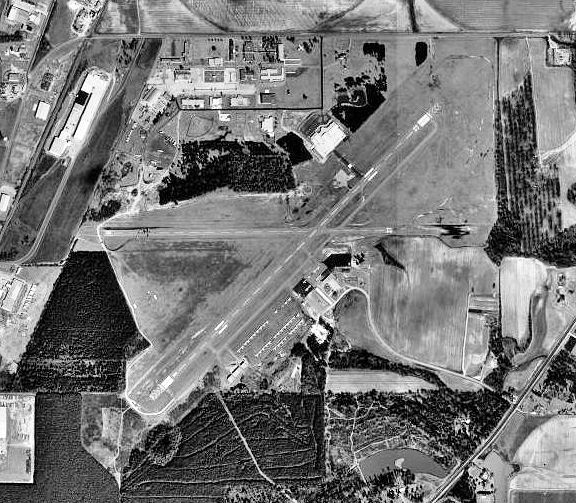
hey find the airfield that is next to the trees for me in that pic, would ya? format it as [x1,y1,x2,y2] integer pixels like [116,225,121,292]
[97,37,497,426]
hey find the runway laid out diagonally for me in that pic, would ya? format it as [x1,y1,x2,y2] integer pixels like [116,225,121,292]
[145,100,443,406]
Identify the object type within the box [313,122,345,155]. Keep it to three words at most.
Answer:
hangar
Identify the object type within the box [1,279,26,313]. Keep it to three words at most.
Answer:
building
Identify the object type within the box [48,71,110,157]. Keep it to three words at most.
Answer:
building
